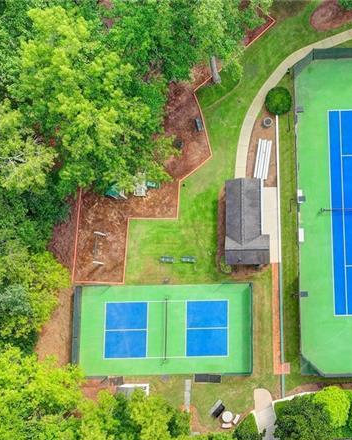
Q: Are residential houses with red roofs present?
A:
No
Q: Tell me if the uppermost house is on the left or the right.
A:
right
